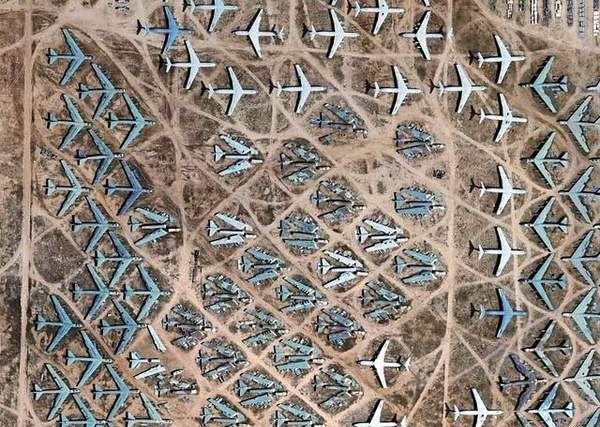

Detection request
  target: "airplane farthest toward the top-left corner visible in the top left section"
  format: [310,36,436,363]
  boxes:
[47,29,94,85]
